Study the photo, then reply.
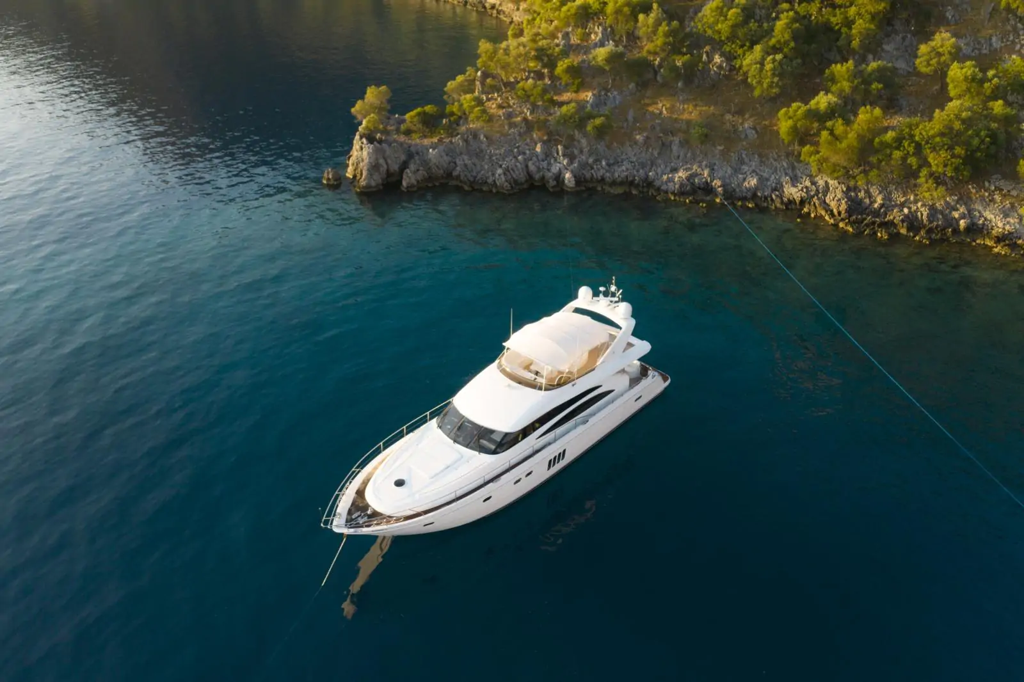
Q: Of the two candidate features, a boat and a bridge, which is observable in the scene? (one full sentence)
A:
Looking from above, you can make out a boat.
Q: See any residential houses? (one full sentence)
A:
No, there isn't any residential house down there.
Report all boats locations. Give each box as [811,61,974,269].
[321,279,671,544]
